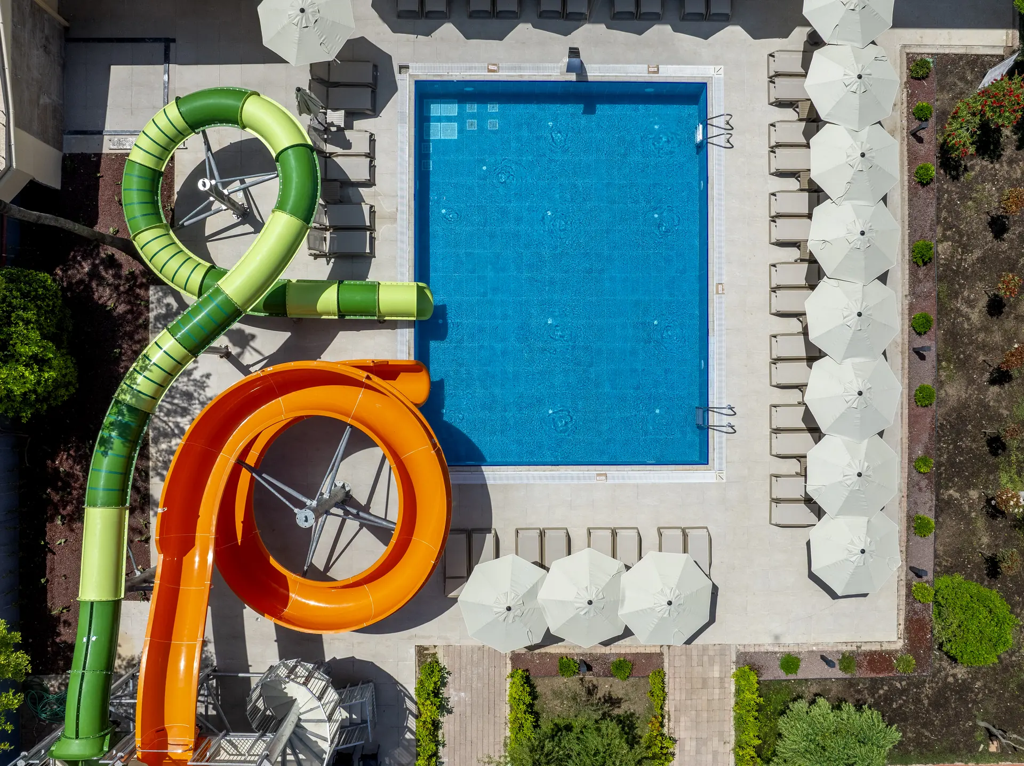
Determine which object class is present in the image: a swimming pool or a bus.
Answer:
swimming pool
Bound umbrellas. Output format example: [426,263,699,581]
[460,552,550,649]
[623,549,711,642]
[261,0,355,66]
[808,118,897,200]
[804,274,897,359]
[803,43,898,126]
[803,353,899,437]
[295,86,335,133]
[805,430,894,512]
[544,546,630,643]
[806,508,899,592]
[805,0,894,54]
[804,195,900,277]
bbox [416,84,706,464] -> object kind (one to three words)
swimming pool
